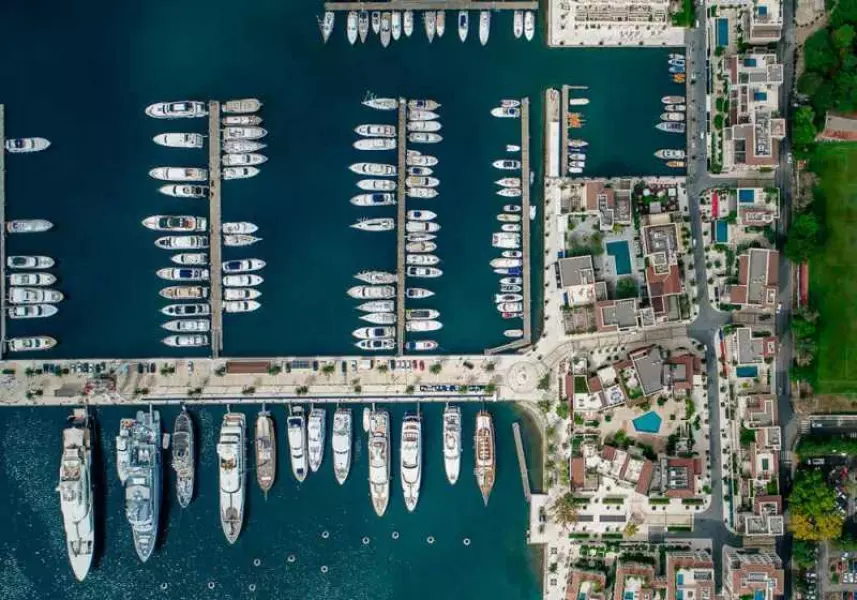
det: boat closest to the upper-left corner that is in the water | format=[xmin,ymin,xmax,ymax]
[8,136,49,151]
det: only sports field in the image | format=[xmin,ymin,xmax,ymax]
[812,143,857,393]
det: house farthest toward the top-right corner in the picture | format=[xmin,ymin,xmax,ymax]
[739,0,784,44]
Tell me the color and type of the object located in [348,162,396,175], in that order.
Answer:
white boat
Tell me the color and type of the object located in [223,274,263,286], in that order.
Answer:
white boat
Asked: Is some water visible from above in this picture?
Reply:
Yes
